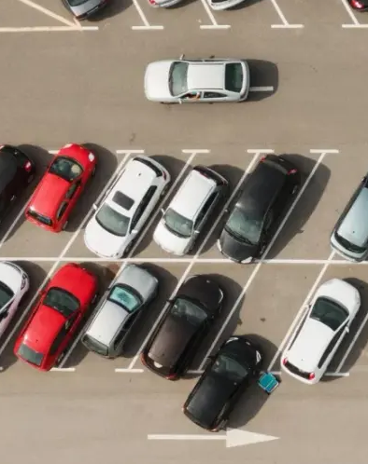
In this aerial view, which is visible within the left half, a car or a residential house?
car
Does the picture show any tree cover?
No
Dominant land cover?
paved ground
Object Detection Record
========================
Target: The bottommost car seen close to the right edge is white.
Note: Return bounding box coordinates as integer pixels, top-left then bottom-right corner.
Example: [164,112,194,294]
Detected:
[281,280,356,383]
